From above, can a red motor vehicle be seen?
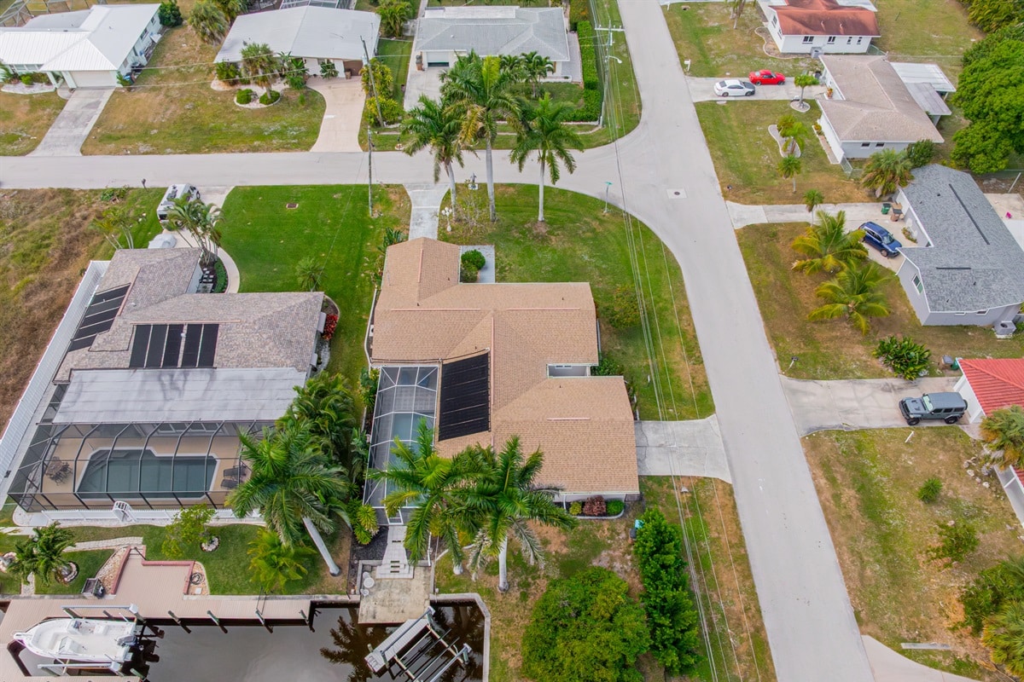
Yes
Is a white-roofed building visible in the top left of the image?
Yes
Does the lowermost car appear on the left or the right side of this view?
right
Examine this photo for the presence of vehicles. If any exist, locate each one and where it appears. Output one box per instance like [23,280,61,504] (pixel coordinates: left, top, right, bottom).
[152,186,202,235]
[748,66,789,83]
[857,220,906,259]
[901,391,973,424]
[713,75,759,94]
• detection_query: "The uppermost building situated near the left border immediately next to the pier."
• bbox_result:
[49,248,328,427]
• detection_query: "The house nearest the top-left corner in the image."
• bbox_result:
[0,4,159,94]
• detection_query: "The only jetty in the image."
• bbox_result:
[0,557,312,682]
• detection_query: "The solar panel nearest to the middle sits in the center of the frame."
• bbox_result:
[374,350,492,441]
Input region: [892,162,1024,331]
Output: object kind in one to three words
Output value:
house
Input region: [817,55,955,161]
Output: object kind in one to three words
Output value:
house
